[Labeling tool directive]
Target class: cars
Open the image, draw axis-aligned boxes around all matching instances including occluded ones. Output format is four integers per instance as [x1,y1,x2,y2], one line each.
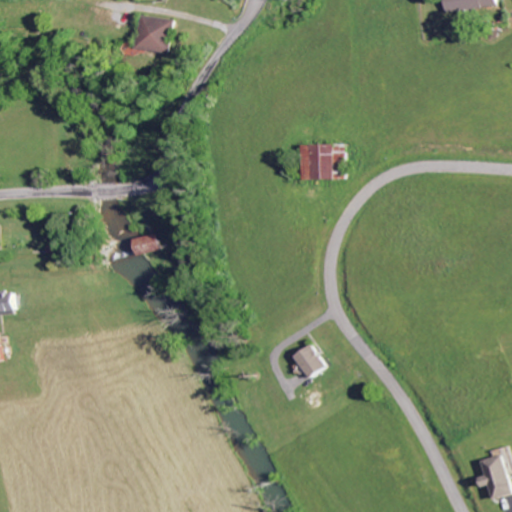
[502,498,509,510]
[301,378,311,386]
[121,12,128,22]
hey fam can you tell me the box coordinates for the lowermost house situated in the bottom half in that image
[477,446,512,499]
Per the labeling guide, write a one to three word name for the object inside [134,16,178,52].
house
